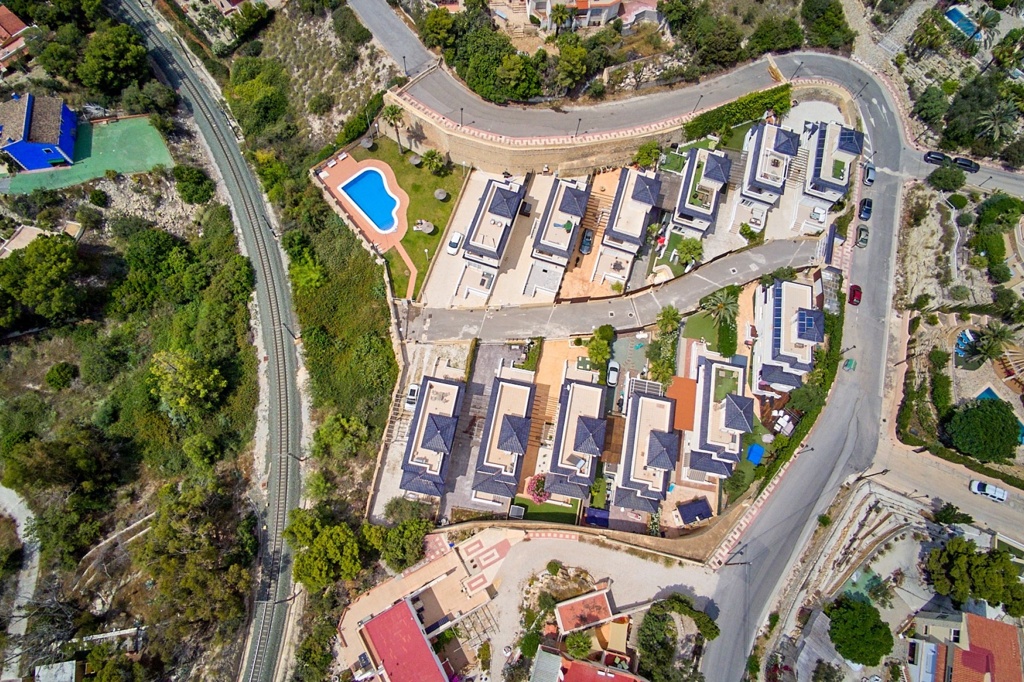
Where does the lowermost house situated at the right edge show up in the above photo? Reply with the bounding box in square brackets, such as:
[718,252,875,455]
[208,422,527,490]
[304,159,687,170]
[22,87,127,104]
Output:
[890,611,1024,682]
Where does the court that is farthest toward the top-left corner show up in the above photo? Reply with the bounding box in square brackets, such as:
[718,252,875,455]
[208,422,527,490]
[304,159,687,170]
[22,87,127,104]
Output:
[0,115,176,194]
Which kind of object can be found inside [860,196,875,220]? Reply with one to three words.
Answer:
car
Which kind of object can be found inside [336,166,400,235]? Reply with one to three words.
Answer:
swimming pool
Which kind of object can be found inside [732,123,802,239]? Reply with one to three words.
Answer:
house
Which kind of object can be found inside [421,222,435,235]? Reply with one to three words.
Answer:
umbrella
